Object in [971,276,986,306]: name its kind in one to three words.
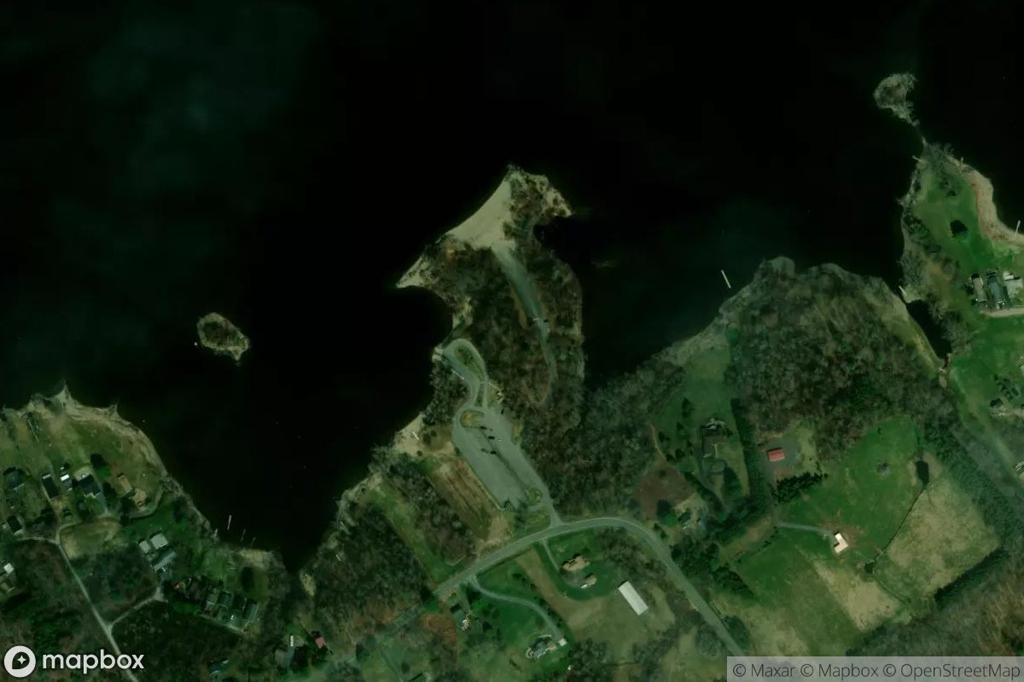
house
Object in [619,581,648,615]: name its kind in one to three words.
barn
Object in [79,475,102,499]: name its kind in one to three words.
house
